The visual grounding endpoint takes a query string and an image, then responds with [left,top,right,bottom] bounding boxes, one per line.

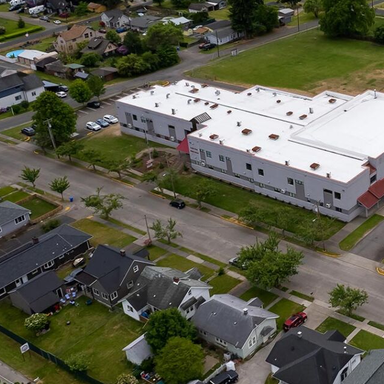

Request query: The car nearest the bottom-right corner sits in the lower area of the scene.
[282,314,310,329]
